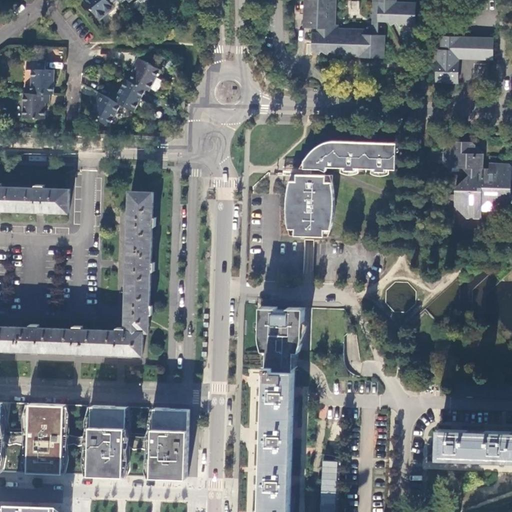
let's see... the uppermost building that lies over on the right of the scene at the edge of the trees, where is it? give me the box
[303,0,417,58]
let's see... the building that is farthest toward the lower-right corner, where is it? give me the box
[433,426,512,466]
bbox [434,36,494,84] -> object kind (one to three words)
house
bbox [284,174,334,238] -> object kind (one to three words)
building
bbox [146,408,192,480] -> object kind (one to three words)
building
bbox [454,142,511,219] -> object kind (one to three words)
house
